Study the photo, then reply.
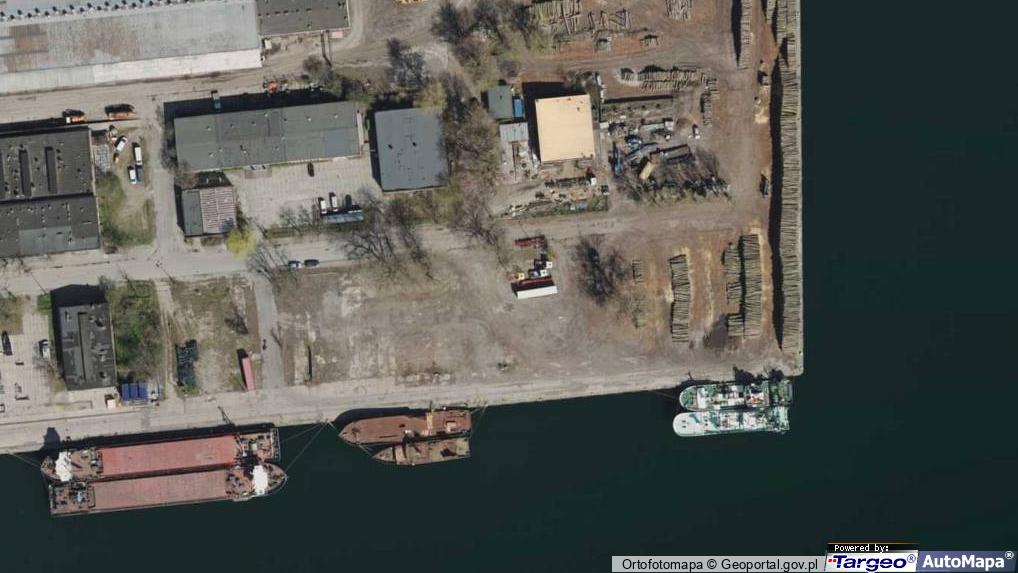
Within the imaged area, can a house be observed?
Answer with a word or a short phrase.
Yes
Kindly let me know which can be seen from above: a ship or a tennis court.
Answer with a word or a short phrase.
ship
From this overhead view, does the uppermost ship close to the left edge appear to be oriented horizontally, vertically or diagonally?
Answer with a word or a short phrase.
horizontally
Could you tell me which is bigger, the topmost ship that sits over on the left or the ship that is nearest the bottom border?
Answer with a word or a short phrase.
the ship that is nearest the bottom border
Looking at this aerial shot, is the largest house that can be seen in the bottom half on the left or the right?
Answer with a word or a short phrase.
left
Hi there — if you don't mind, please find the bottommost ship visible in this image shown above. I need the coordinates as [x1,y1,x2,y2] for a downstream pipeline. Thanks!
[50,463,287,516]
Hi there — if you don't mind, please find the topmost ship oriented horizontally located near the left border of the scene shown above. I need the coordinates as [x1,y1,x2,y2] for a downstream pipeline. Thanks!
[42,429,280,482]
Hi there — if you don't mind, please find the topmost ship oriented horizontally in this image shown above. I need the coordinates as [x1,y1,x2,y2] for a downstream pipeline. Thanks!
[679,382,792,411]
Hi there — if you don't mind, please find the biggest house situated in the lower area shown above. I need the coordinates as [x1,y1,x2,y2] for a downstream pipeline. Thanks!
[60,302,119,391]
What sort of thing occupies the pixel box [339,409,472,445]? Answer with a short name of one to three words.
ship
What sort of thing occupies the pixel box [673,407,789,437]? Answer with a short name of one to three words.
ship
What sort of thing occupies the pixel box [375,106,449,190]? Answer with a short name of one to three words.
shed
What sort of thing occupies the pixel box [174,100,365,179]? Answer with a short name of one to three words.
building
